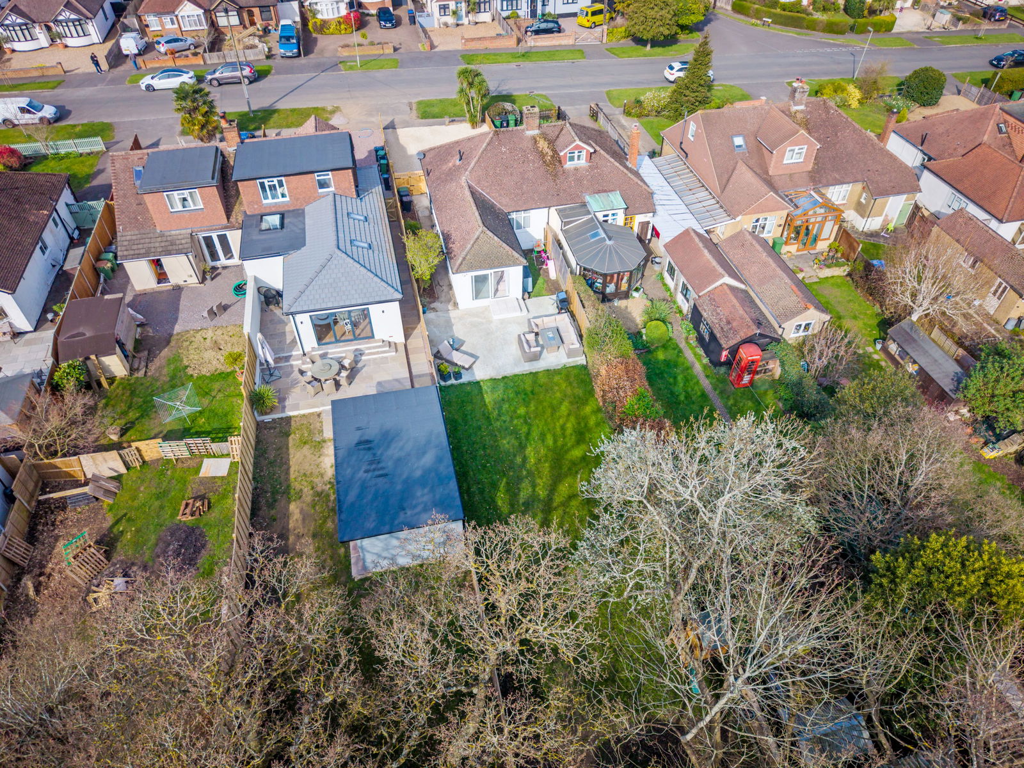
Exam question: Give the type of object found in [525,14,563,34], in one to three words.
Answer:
car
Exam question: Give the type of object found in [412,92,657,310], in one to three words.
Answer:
house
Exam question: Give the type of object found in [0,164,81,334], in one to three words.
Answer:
house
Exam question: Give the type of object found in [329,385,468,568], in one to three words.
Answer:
building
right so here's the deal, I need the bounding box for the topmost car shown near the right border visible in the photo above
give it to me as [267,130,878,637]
[987,2,1010,21]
